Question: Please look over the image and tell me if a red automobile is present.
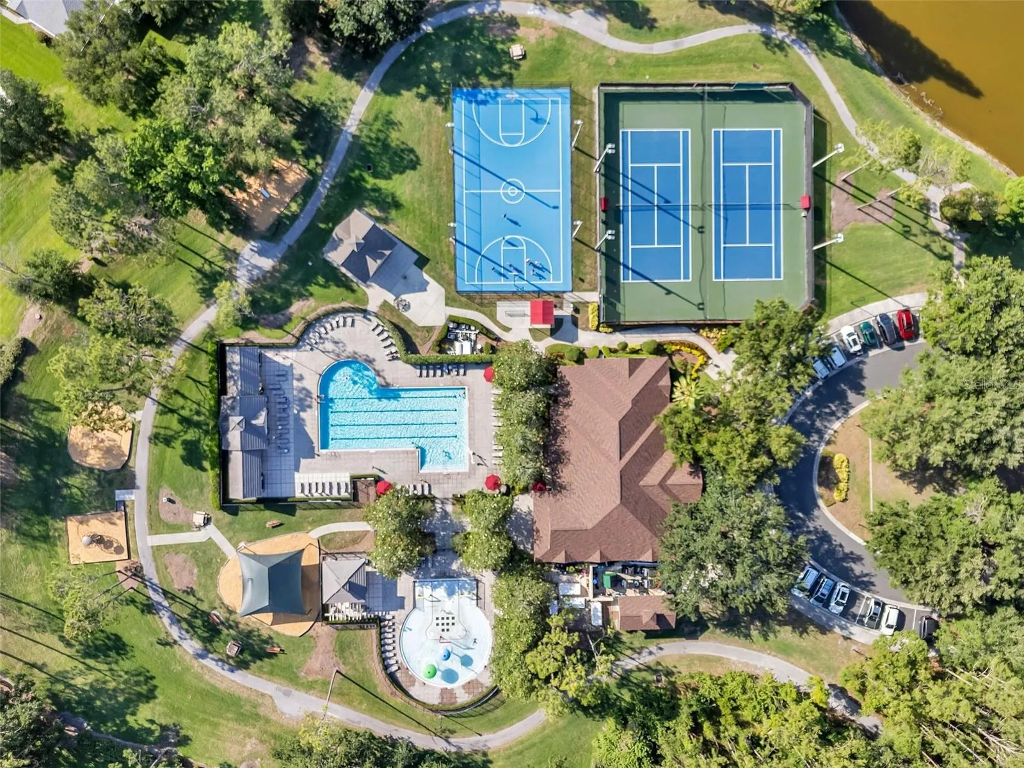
Yes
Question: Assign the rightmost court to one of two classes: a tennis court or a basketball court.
tennis court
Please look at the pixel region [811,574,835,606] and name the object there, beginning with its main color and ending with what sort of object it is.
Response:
blue car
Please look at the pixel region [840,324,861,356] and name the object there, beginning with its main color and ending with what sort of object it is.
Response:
white car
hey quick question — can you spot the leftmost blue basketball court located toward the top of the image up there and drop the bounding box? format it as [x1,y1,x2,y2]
[453,89,572,293]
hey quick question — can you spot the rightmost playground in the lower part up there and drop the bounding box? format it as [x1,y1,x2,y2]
[217,532,322,637]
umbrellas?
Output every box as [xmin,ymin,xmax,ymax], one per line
[376,480,392,495]
[484,474,501,491]
[532,482,547,495]
[481,366,492,382]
